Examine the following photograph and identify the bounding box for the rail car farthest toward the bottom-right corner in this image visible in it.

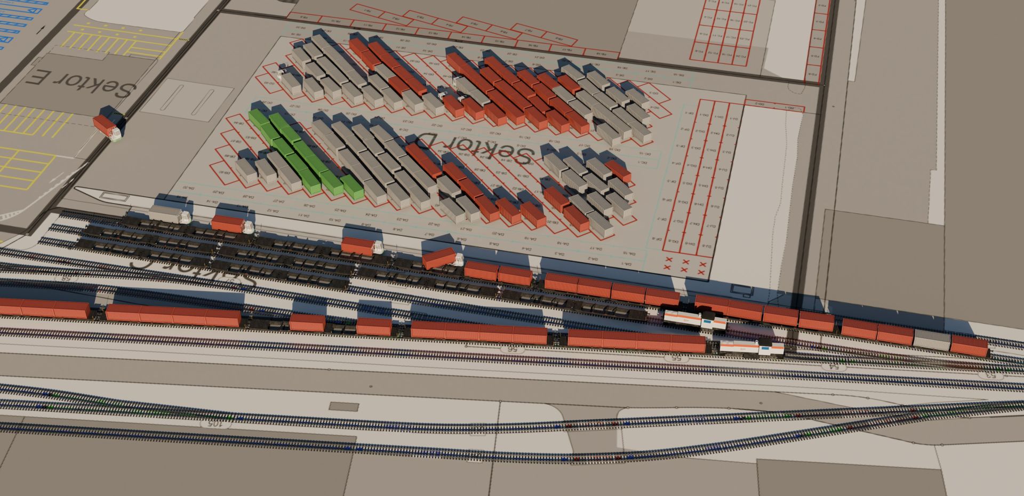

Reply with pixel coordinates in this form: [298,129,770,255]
[836,324,995,358]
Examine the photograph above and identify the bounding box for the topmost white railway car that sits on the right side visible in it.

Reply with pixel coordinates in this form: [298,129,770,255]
[662,308,729,331]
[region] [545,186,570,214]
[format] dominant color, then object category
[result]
red shipping container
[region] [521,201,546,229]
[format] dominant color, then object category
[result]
red shipping container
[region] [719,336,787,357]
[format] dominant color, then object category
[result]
white rail car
